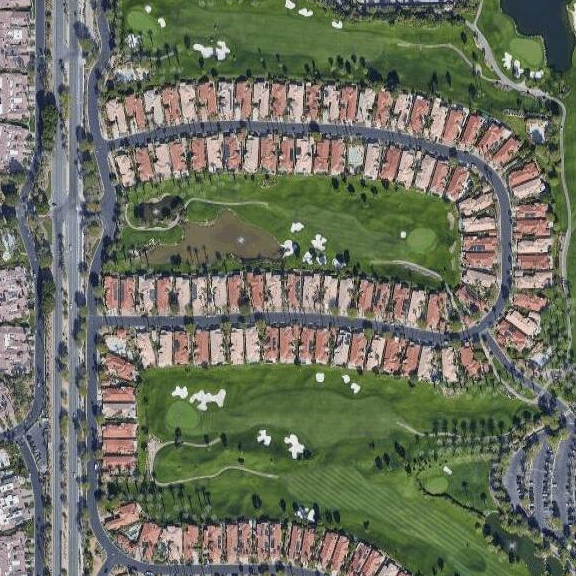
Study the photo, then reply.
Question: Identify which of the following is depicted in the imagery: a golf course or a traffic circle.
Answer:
golf course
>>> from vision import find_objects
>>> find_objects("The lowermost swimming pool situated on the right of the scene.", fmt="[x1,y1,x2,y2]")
[529,349,549,367]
